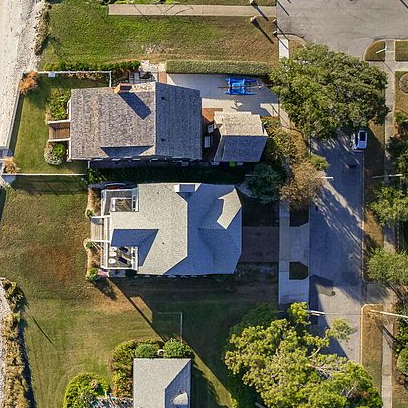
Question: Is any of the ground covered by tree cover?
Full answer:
Yes, tree cover can be seen from above here.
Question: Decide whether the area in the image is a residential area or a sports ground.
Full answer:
This image shows a residential area.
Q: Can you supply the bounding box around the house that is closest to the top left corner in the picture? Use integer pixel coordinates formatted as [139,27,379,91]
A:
[48,82,202,164]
